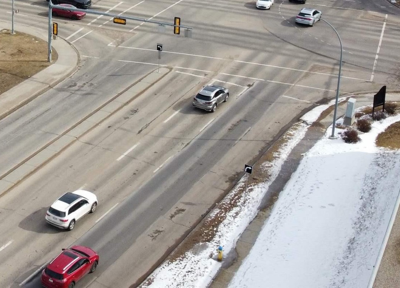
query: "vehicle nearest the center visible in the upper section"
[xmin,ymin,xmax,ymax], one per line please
[193,89,226,115]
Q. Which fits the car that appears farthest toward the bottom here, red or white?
red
